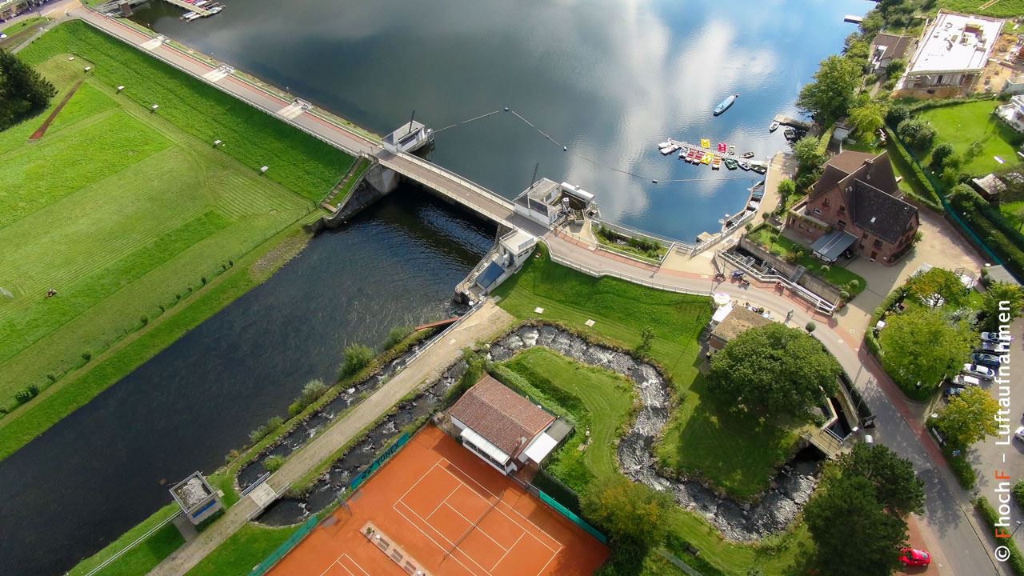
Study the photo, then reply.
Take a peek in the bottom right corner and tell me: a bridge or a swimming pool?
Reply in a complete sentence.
The feature located in the bottom right corner is a bridge.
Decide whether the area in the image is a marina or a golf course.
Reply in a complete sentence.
This looks like a marina.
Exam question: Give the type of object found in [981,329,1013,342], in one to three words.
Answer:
vehicle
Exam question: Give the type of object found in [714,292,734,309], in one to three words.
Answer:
umbrella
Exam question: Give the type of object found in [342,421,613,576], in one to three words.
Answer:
tennis court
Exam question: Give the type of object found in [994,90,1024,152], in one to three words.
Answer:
house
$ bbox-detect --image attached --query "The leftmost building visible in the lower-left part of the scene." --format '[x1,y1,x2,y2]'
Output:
[169,471,222,526]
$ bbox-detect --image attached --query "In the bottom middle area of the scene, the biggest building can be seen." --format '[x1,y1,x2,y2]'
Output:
[448,375,575,471]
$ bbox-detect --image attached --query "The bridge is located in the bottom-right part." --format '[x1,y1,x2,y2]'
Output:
[802,423,845,459]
